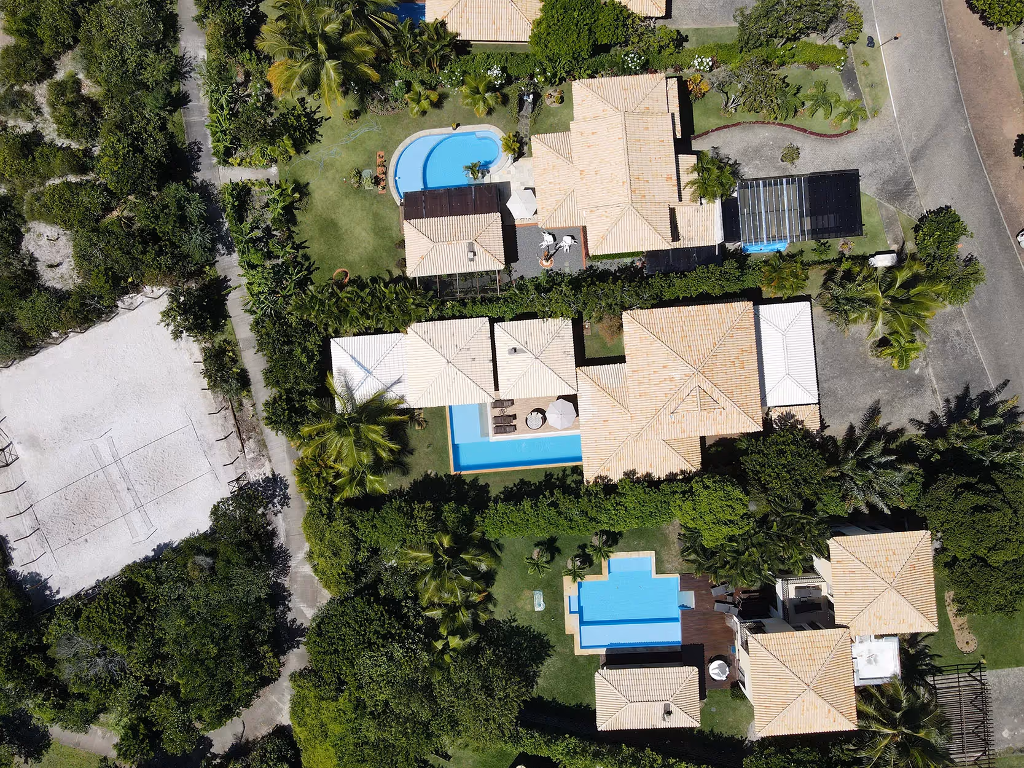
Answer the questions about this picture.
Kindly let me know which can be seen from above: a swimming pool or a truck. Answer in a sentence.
Looking from above, you can make out a swimming pool.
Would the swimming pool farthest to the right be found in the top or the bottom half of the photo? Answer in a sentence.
The swimming pool farthest to the right sits in the bottom half of the picture.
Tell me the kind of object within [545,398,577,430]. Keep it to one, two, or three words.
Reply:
umbrella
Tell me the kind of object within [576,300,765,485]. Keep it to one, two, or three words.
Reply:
house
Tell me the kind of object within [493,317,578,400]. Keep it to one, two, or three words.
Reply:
building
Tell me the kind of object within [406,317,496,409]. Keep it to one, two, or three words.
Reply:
building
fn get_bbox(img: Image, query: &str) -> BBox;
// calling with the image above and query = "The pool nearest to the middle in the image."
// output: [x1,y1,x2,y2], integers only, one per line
[449,372,583,474]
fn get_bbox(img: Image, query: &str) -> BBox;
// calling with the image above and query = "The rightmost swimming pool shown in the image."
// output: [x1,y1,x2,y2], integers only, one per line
[563,550,695,655]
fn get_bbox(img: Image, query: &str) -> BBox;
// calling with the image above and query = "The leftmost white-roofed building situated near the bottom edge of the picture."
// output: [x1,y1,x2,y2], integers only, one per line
[594,664,702,732]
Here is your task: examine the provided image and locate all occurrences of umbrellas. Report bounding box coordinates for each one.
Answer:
[545,398,577,430]
[504,187,537,220]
